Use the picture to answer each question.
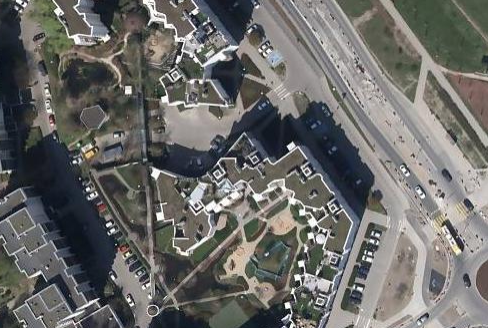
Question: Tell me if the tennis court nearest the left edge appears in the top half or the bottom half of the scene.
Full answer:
It is in the bottom half that the tennis court nearest the left edge appears.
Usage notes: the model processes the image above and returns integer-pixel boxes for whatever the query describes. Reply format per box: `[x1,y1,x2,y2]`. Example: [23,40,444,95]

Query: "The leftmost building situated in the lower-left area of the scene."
[0,182,126,328]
